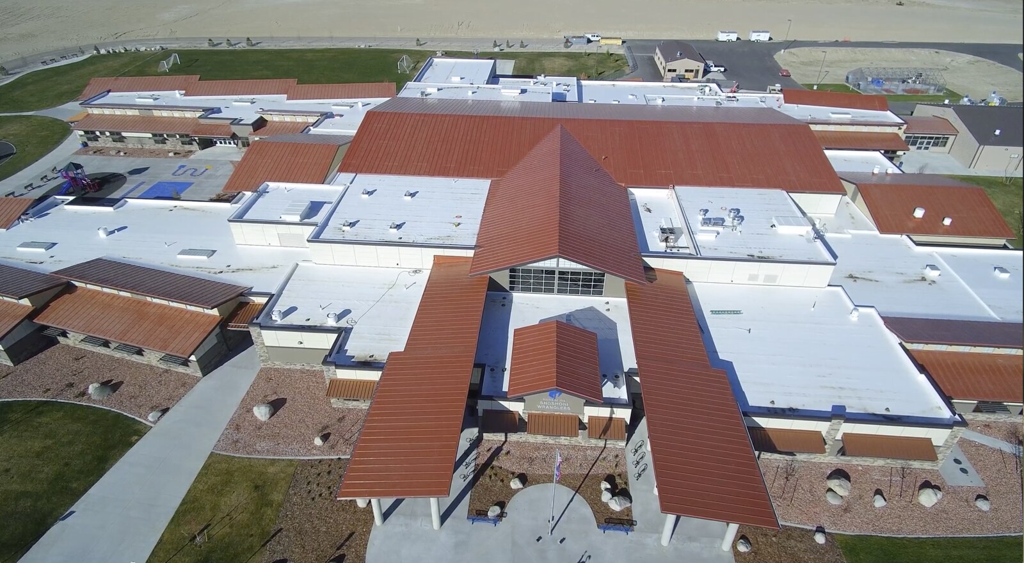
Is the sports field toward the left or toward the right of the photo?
left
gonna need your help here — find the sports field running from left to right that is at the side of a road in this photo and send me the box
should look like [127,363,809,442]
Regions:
[0,49,628,113]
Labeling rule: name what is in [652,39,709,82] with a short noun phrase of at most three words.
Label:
building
